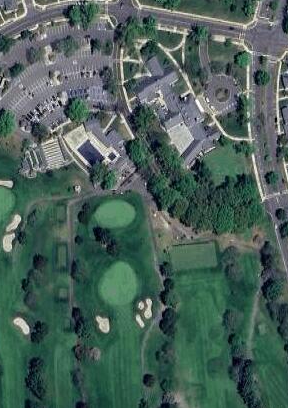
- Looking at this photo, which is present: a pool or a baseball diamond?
pool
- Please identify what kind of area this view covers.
golf course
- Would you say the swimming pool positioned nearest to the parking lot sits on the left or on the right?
left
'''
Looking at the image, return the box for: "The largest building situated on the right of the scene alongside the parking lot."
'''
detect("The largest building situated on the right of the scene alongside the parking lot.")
[161,78,218,167]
